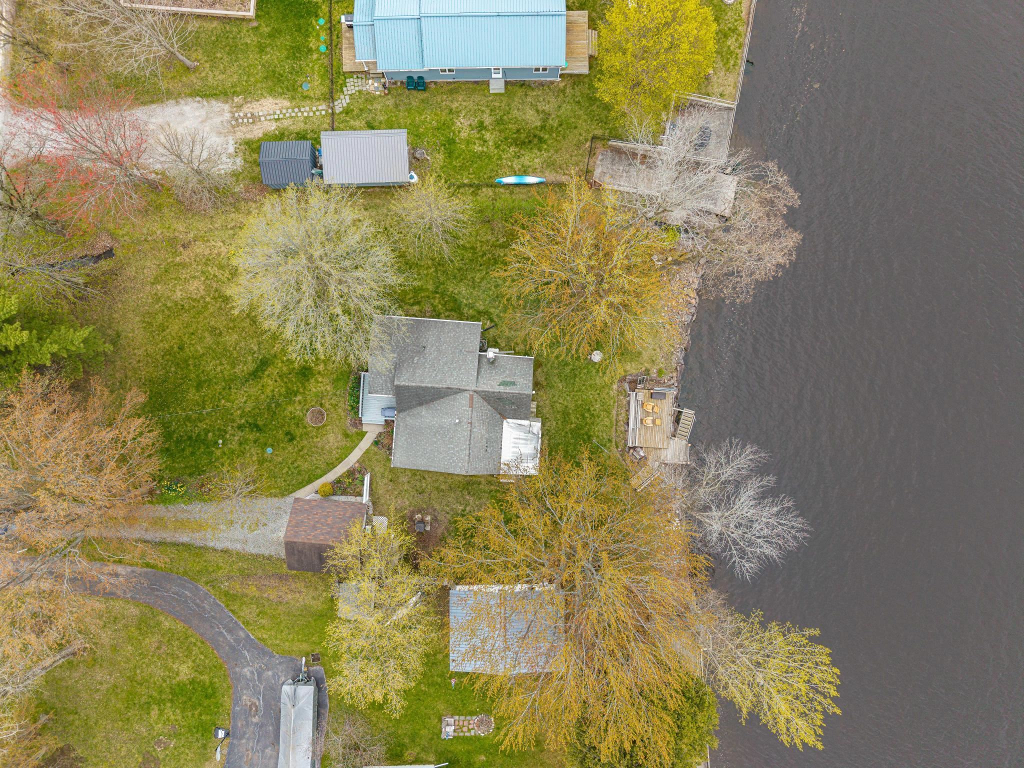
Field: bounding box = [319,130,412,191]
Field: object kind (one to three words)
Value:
shed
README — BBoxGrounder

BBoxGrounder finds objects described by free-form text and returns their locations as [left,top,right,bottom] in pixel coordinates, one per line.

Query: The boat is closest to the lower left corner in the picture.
[283,668,322,768]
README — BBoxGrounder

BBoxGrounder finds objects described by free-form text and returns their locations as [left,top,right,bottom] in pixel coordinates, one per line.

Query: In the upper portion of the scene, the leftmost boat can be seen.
[495,173,546,185]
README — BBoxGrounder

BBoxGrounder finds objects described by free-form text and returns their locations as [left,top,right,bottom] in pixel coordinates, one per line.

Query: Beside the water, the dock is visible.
[628,389,699,476]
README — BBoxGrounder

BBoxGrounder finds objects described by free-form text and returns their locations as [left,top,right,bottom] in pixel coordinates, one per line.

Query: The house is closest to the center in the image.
[361,315,544,477]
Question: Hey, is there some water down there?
Yes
